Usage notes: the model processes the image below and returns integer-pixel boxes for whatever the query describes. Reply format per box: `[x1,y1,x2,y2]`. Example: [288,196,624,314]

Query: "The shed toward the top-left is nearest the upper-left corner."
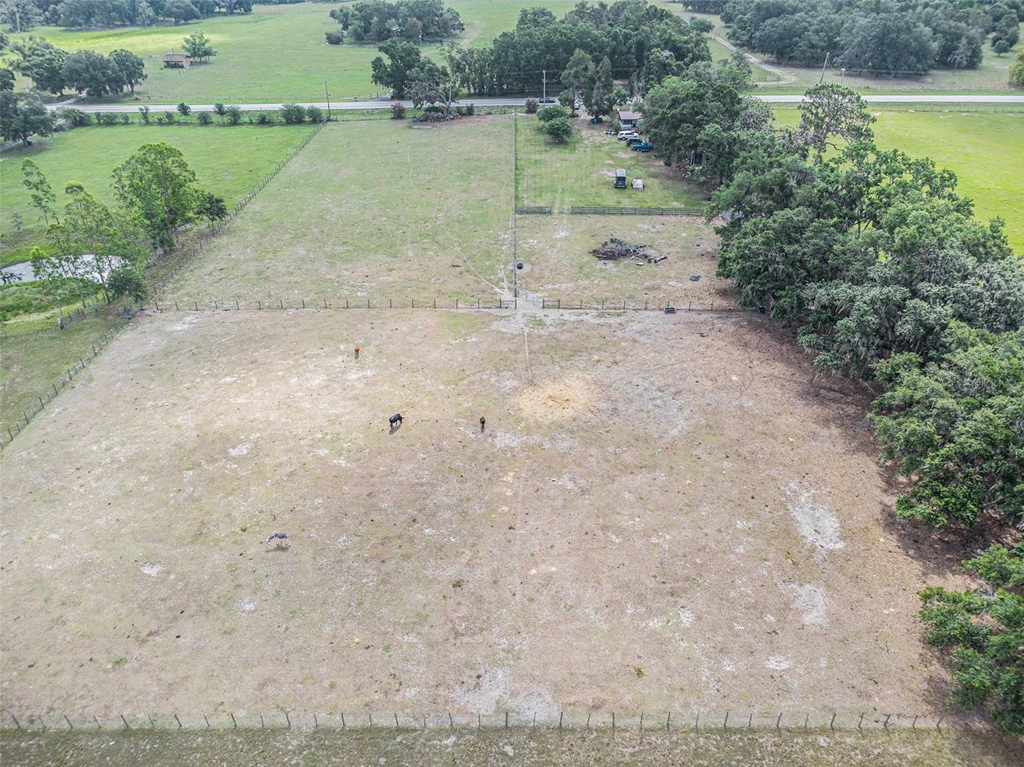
[160,52,196,66]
